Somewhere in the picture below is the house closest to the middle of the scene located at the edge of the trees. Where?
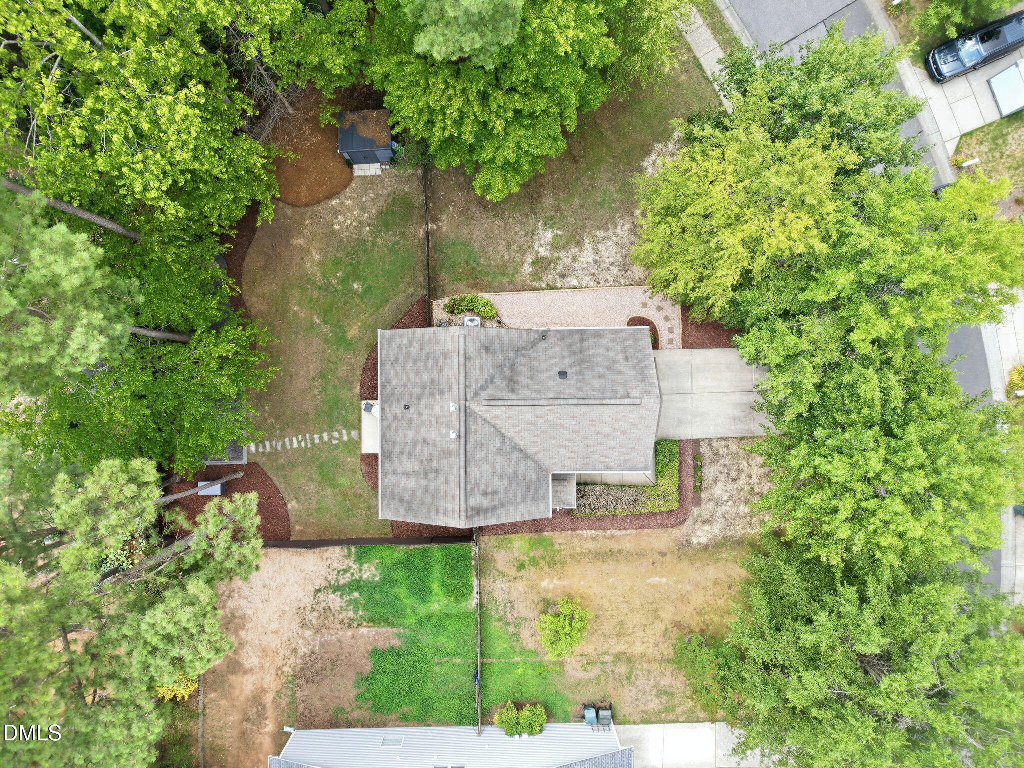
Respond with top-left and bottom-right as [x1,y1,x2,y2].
[379,325,662,528]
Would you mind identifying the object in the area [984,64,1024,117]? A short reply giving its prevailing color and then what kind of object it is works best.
white trailer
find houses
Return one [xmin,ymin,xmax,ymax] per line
[379,325,662,528]
[267,723,632,768]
